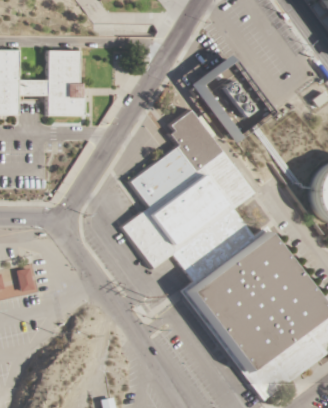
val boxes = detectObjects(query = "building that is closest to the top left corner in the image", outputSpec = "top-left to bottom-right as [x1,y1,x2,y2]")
[0,50,86,116]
